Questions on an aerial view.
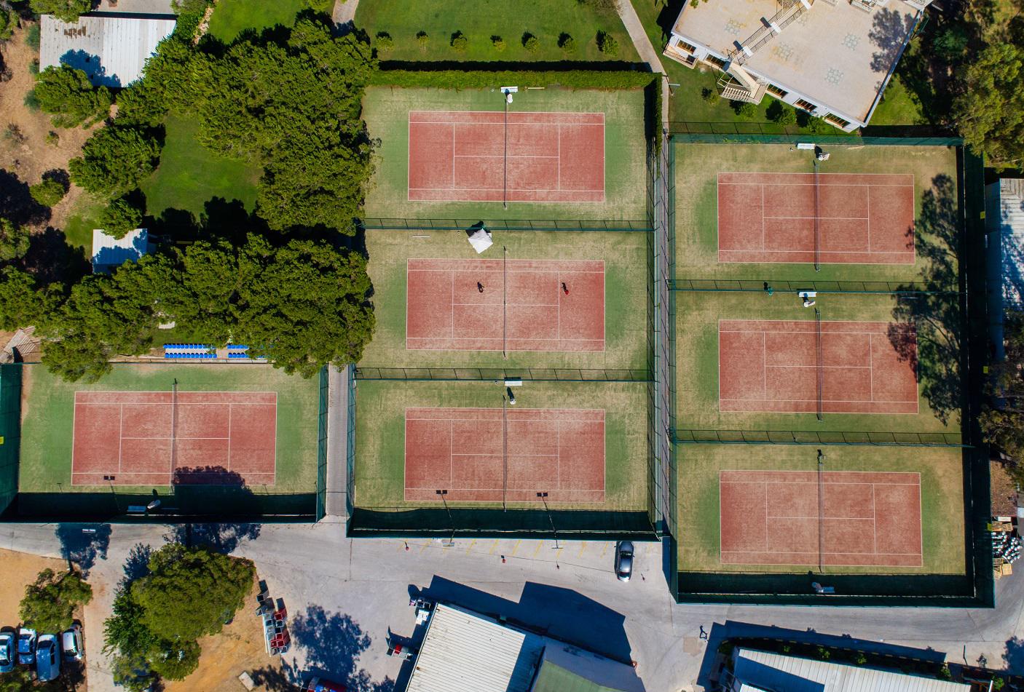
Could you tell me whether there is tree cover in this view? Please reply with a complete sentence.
Yes, tree cover can be seen from above here.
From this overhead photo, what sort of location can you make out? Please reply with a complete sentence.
This looks like a sports ground.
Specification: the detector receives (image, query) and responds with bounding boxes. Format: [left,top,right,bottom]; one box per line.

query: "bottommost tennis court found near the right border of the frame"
[669,442,976,597]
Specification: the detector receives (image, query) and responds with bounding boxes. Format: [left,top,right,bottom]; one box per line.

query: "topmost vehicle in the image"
[615,541,634,582]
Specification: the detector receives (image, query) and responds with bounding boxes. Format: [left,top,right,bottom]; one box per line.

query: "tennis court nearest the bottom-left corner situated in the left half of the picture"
[18,364,321,516]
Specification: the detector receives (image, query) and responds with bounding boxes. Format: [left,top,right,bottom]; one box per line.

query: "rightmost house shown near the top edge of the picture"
[662,0,928,134]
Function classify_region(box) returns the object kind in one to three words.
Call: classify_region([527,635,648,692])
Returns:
building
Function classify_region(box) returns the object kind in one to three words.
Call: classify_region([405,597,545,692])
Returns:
building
